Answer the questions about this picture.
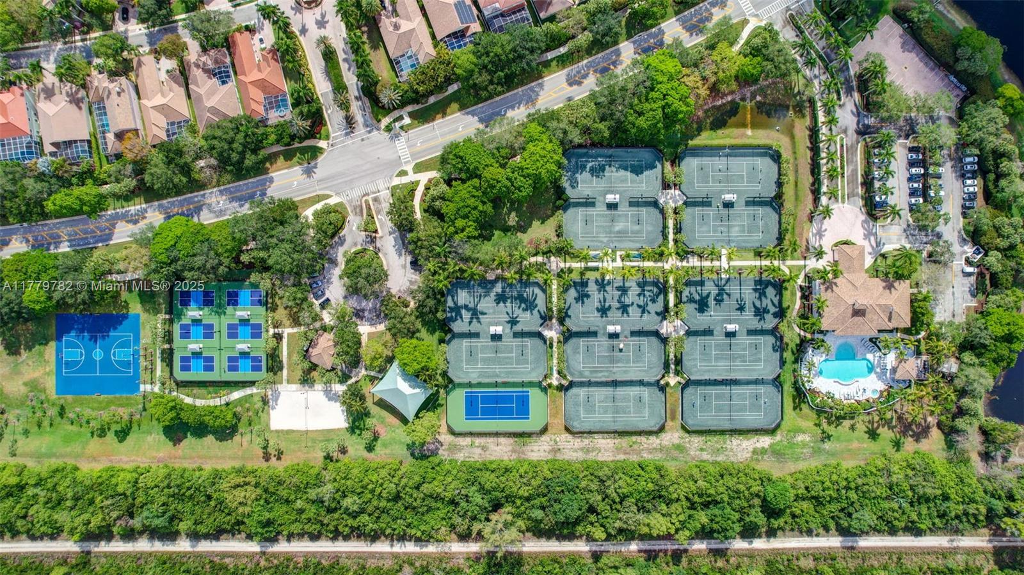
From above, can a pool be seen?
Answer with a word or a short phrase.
Yes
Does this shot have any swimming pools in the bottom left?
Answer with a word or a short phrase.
No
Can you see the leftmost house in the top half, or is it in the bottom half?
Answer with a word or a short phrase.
top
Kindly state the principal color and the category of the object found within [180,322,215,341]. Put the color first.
blue sports court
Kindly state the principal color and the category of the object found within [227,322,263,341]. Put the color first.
blue sports court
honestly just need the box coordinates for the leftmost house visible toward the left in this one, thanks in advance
[0,81,46,163]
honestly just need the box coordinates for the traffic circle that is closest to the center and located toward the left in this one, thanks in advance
[340,244,389,301]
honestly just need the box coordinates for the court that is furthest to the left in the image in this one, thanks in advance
[56,313,140,395]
